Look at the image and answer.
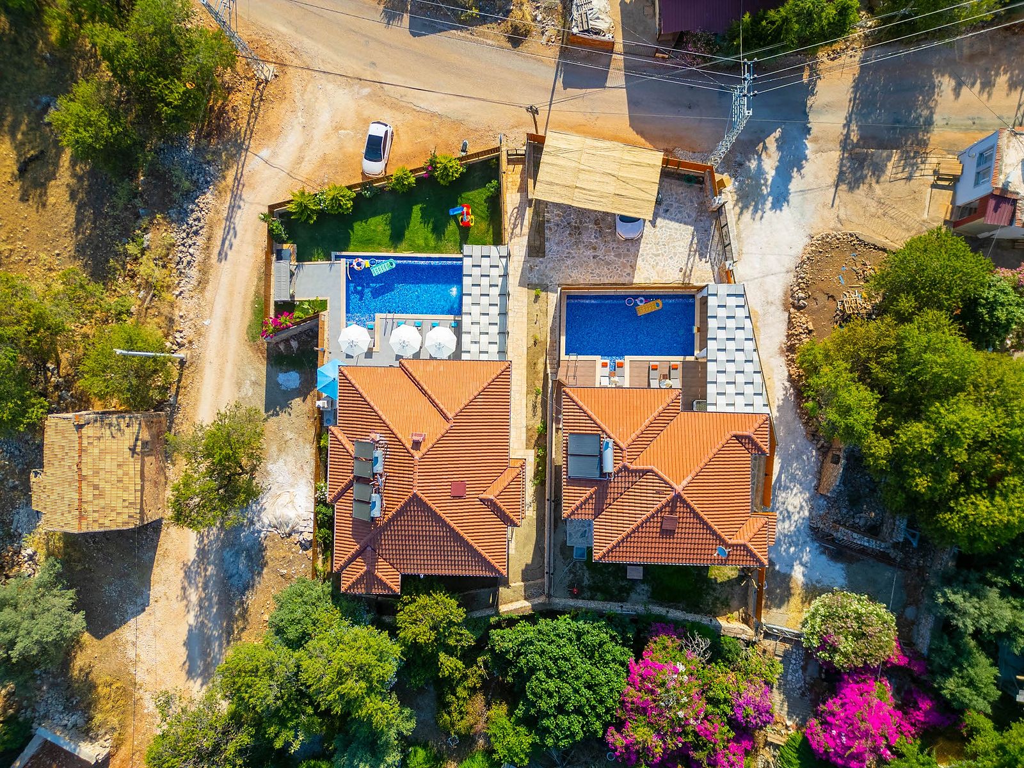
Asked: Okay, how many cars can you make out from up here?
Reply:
2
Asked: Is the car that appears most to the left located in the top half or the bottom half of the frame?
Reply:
top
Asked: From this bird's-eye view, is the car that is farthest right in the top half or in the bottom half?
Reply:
top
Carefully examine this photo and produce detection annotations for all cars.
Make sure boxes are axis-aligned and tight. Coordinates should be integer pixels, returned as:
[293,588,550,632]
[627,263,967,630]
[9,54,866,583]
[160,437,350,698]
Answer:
[617,214,646,240]
[357,118,390,179]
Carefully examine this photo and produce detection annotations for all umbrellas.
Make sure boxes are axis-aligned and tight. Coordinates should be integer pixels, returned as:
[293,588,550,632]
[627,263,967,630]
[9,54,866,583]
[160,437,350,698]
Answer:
[341,324,372,355]
[318,359,346,400]
[391,325,422,356]
[425,327,457,358]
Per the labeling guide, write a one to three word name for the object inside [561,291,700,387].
swimming pool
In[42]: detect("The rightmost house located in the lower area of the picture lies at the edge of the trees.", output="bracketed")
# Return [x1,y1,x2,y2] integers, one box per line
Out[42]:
[560,387,778,568]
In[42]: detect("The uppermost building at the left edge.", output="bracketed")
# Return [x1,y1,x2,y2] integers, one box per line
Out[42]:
[29,415,167,534]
